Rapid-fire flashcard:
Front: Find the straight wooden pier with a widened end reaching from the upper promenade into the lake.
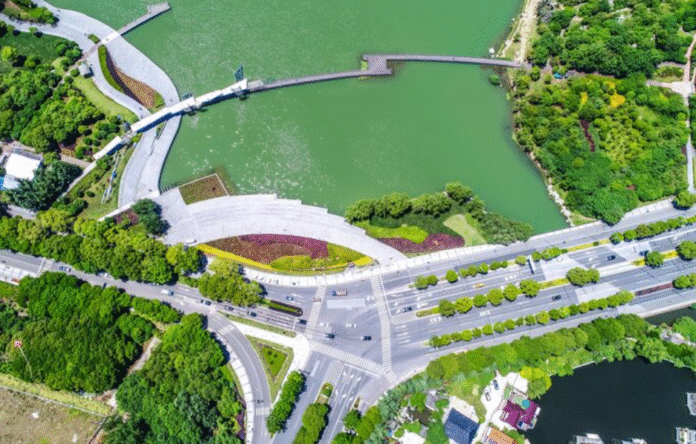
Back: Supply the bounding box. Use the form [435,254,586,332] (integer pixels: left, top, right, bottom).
[117,0,171,37]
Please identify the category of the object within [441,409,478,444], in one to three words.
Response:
house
